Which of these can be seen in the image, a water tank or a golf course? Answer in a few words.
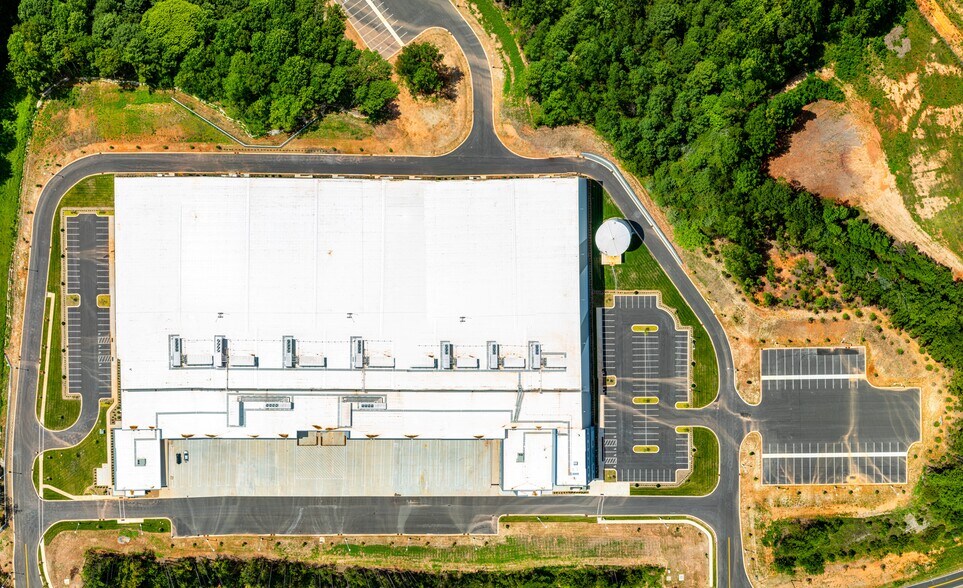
water tank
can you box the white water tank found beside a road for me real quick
[595,219,638,258]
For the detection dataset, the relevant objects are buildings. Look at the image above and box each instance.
[115,177,590,440]
[601,255,624,265]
